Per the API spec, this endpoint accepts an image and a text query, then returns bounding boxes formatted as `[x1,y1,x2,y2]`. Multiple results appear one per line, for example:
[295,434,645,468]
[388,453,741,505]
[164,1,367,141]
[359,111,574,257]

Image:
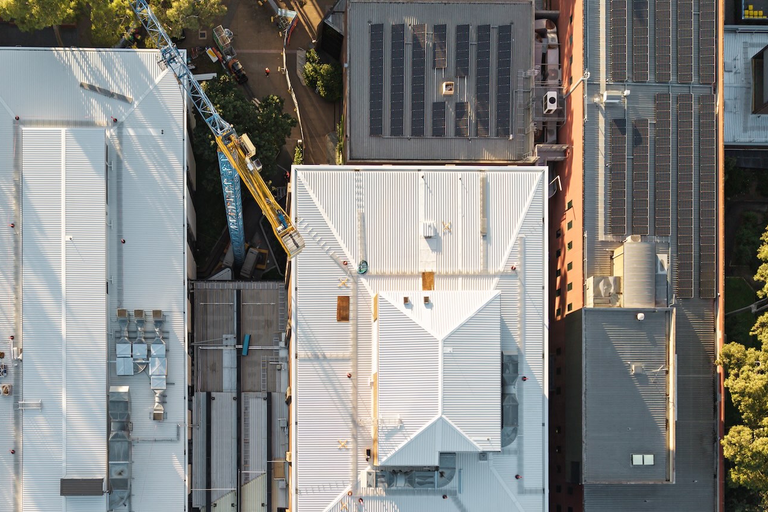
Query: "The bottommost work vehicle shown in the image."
[217,41,252,88]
